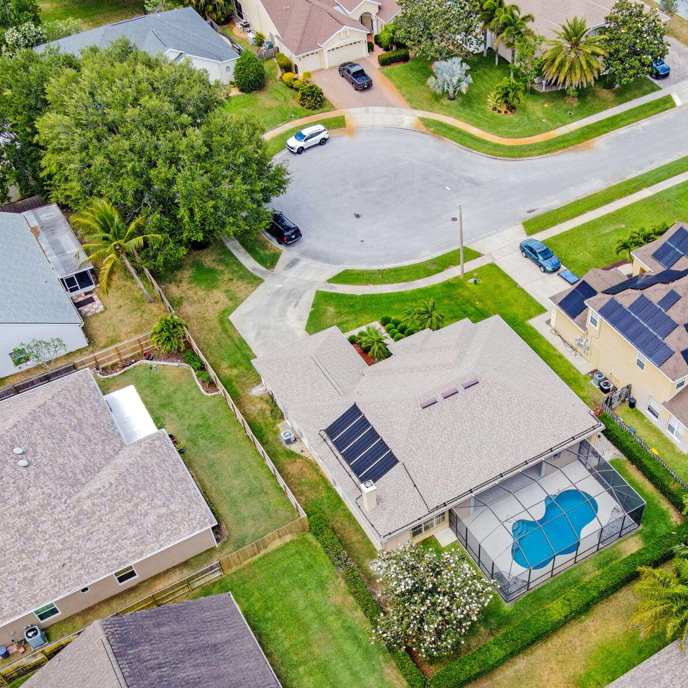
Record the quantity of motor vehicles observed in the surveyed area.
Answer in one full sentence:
The number of motor vehicles here is 5.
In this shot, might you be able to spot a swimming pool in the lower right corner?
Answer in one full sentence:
Yes, a swimming pool can be seen in the lower right corner.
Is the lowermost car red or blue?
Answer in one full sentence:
In this view, the lowermost car is blue.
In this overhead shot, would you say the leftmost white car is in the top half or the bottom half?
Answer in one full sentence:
The leftmost white car is in the top half of the image.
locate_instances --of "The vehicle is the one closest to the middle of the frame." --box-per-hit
[259,210,305,243]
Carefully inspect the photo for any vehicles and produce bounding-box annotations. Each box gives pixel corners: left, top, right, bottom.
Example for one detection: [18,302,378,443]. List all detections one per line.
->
[338,59,371,88]
[259,210,305,243]
[518,234,561,273]
[642,54,677,79]
[285,124,330,152]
